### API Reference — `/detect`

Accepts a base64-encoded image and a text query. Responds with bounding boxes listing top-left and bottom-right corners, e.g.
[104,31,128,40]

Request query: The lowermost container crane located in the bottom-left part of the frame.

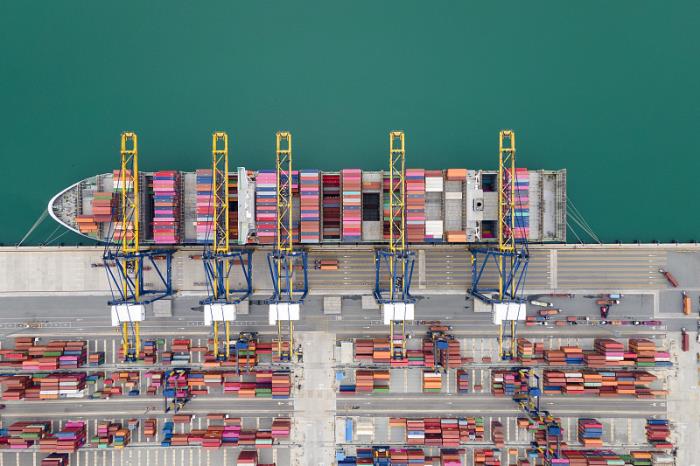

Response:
[163,366,189,414]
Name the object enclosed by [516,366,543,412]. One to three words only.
container crane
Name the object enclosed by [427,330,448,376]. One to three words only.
container crane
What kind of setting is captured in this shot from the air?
port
